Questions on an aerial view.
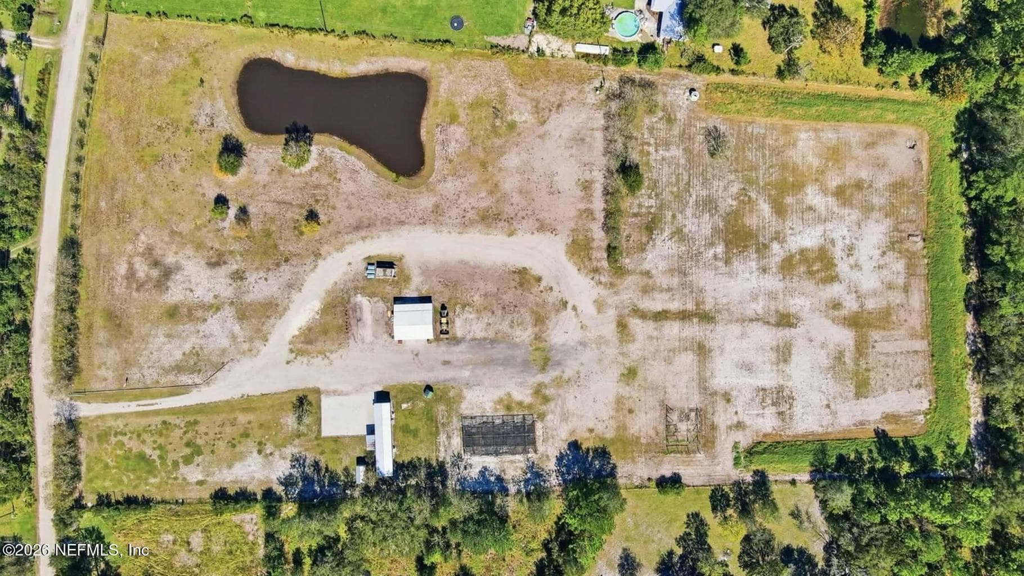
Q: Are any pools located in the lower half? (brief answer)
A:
No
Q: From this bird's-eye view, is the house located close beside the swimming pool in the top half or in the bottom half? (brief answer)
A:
top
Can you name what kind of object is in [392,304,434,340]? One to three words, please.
barn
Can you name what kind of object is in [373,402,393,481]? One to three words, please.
house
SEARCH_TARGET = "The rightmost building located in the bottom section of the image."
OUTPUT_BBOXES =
[462,415,539,455]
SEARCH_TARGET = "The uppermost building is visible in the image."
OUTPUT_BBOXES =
[651,0,688,41]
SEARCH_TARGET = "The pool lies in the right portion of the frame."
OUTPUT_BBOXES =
[611,10,641,38]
